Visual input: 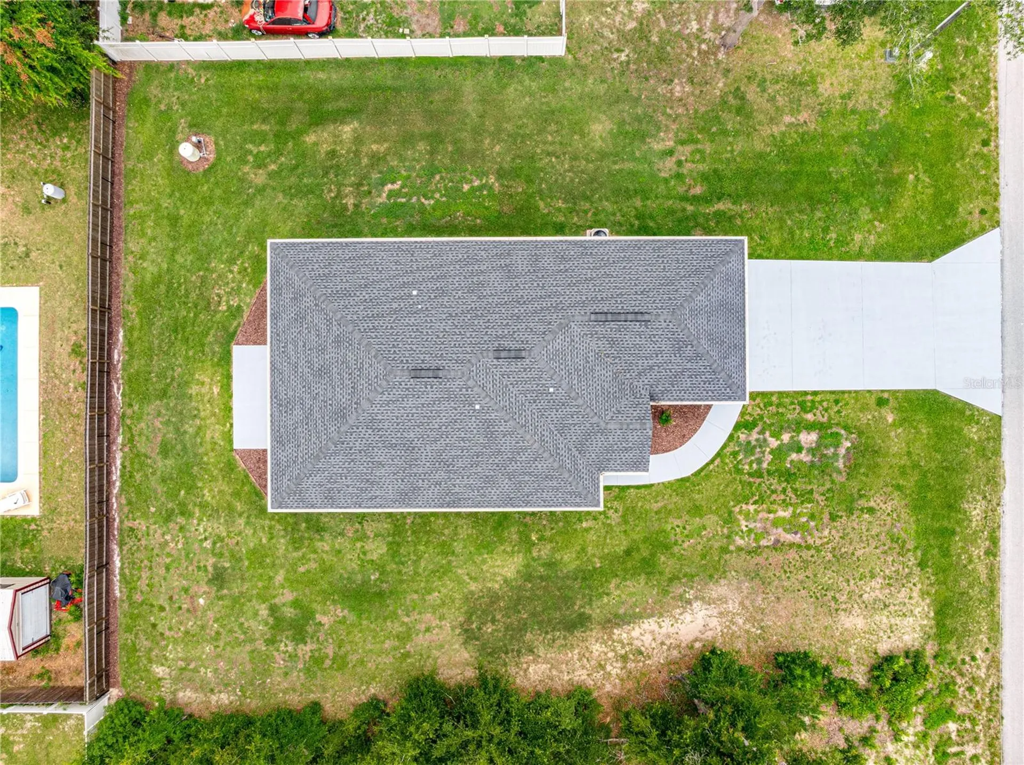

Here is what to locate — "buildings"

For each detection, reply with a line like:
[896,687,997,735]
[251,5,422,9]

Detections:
[268,235,751,514]
[0,578,50,658]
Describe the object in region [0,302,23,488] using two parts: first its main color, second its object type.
blue swimming pool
